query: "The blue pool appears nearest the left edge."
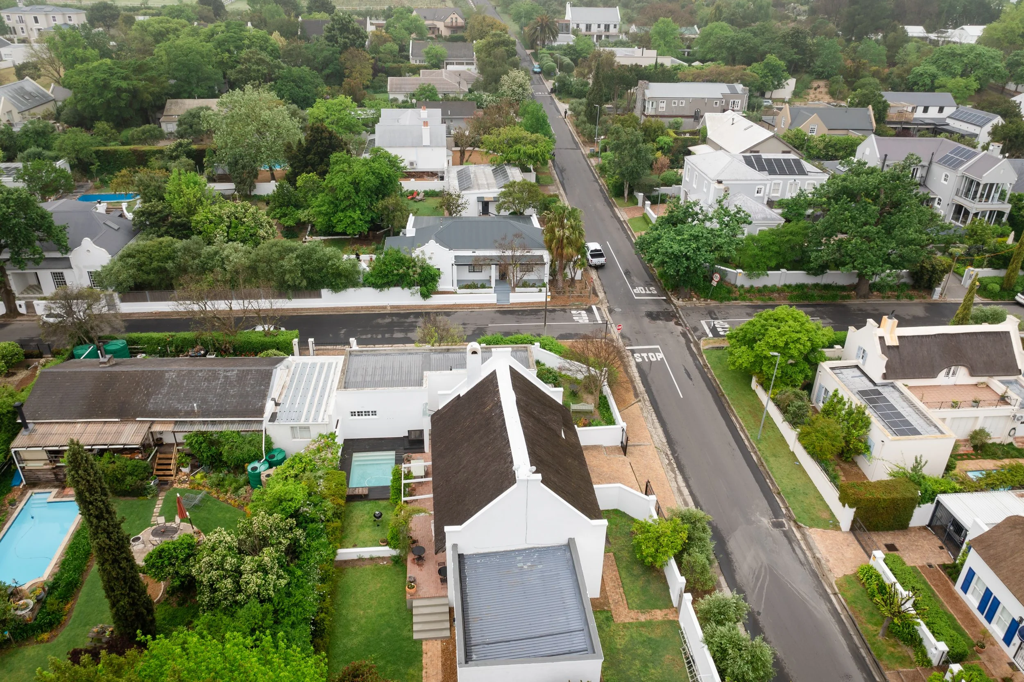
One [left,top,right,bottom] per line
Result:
[0,488,70,597]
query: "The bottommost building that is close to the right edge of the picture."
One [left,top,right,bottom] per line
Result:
[955,531,1024,671]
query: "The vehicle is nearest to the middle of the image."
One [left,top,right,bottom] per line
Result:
[582,238,607,263]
